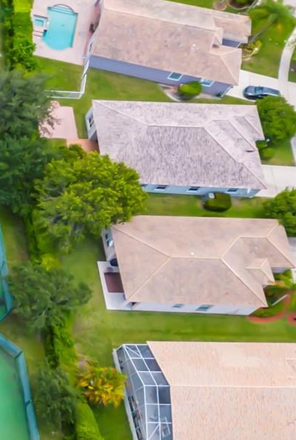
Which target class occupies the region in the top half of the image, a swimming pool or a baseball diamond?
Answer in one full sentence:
Looking in the top half of the image, you will find a swimming pool.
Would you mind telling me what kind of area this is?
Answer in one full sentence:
What you see here is a residential area.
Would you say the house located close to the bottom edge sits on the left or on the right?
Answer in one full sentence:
It is on the right.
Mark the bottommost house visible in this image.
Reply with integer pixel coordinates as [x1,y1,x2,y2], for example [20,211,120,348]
[145,341,296,440]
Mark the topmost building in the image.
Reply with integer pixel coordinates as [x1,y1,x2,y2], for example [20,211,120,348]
[87,0,252,96]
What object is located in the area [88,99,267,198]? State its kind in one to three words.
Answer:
house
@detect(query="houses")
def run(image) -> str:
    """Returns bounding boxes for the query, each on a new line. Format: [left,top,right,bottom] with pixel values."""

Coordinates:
[87,0,252,96]
[105,218,296,315]
[145,341,296,440]
[88,99,267,198]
